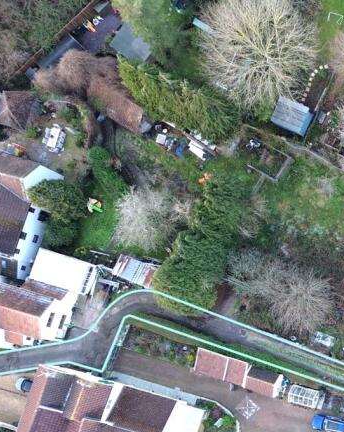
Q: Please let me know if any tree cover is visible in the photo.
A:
Yes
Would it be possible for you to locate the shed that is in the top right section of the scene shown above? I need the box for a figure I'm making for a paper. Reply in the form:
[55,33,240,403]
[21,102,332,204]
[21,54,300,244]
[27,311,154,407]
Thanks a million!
[269,96,313,136]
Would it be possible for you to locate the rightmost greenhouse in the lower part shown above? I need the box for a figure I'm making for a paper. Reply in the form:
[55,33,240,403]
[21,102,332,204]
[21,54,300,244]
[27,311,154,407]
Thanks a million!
[287,383,323,410]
